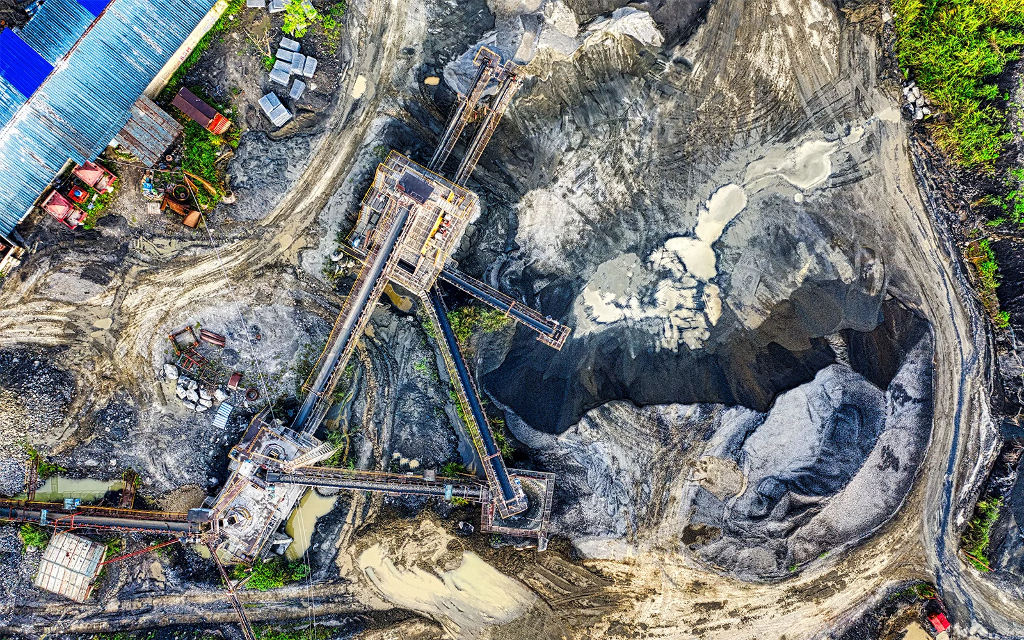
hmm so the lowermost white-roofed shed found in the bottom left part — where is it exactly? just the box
[35,530,115,605]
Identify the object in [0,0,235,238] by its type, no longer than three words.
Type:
warehouse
